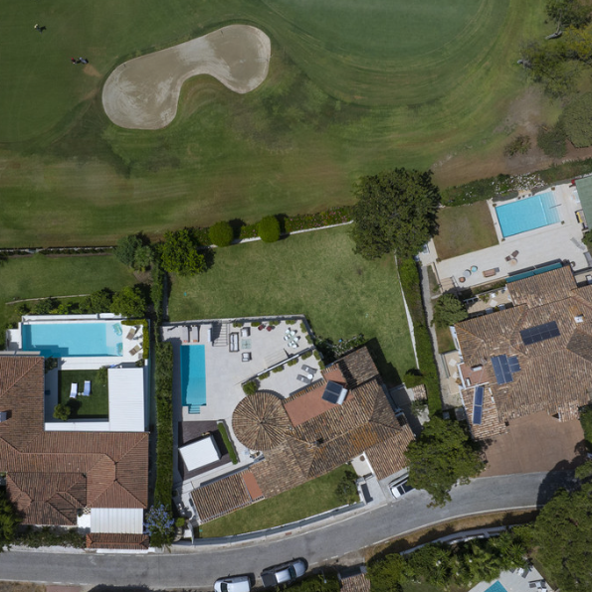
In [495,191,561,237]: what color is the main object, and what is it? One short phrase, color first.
blue swimming pool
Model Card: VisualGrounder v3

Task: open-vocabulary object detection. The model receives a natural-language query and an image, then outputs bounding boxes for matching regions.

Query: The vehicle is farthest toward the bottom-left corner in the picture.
[214,573,253,592]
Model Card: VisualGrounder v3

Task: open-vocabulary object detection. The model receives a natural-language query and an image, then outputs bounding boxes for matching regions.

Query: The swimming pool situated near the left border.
[21,324,122,357]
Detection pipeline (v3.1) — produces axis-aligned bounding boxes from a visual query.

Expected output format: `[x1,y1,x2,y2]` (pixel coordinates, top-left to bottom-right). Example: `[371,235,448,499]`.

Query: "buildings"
[452,265,592,439]
[0,356,150,551]
[568,176,592,230]
[411,385,427,403]
[339,566,369,592]
[190,346,415,522]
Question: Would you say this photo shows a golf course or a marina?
golf course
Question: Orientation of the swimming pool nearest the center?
vertically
